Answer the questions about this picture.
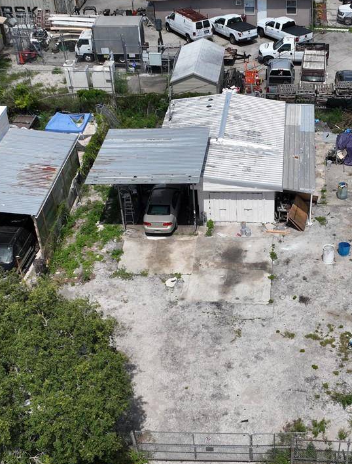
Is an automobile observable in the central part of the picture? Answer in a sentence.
Yes, in the central part of the picture there is an automobile.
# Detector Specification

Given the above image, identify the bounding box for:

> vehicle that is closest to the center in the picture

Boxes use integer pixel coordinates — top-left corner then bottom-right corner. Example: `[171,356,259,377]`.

[141,187,196,236]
